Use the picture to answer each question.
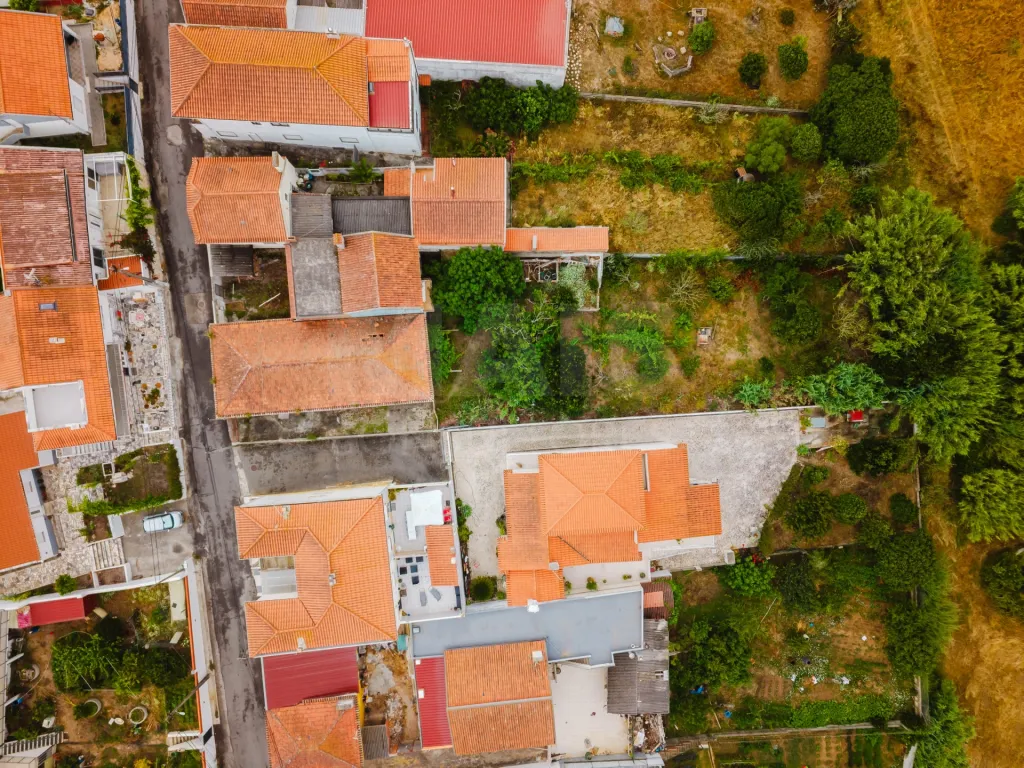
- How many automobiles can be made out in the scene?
1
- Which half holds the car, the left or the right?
left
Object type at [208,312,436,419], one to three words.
house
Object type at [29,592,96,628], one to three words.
shed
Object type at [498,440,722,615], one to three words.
house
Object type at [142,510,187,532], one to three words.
car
